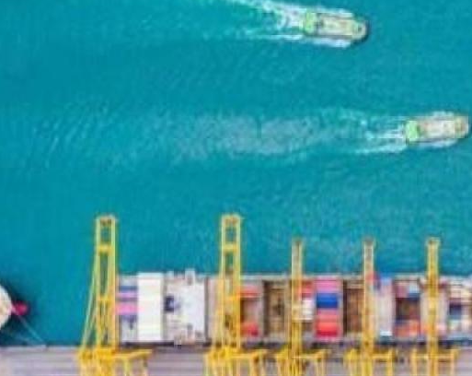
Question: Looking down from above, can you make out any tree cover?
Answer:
No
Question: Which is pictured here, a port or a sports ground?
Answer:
port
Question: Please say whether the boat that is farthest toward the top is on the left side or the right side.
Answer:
right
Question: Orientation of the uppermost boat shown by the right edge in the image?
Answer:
from left to right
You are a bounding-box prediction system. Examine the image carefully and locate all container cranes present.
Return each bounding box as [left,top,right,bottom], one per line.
[275,239,329,376]
[409,239,457,376]
[348,239,396,376]
[78,216,155,376]
[206,216,271,376]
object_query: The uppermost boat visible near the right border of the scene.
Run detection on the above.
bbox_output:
[405,113,471,143]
